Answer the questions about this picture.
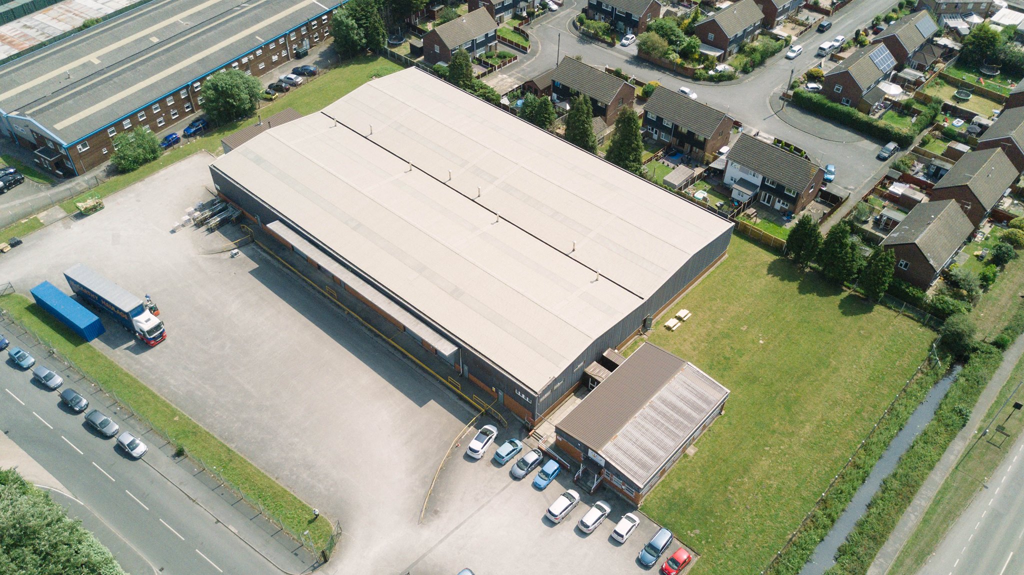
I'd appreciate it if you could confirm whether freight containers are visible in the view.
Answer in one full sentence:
Yes, there is a freight container in the image.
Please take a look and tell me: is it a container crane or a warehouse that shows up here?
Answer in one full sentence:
I can see a warehouse in this picture.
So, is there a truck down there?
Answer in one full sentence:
Yes, the image includes a truck.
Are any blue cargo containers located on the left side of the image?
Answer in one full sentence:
Yes, there is a blue cargo container on the left side of the image.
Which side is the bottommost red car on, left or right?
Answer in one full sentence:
The bottommost red car sits on the right side.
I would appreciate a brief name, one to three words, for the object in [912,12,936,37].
solar panel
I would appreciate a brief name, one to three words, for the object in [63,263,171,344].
truck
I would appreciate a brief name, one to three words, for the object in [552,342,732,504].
building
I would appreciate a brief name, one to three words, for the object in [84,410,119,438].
car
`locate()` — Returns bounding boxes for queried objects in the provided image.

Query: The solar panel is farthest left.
[865,45,893,71]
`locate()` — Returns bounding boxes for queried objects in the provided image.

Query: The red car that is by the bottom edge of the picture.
[662,545,694,575]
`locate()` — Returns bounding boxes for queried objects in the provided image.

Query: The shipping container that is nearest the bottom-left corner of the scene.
[30,281,106,342]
